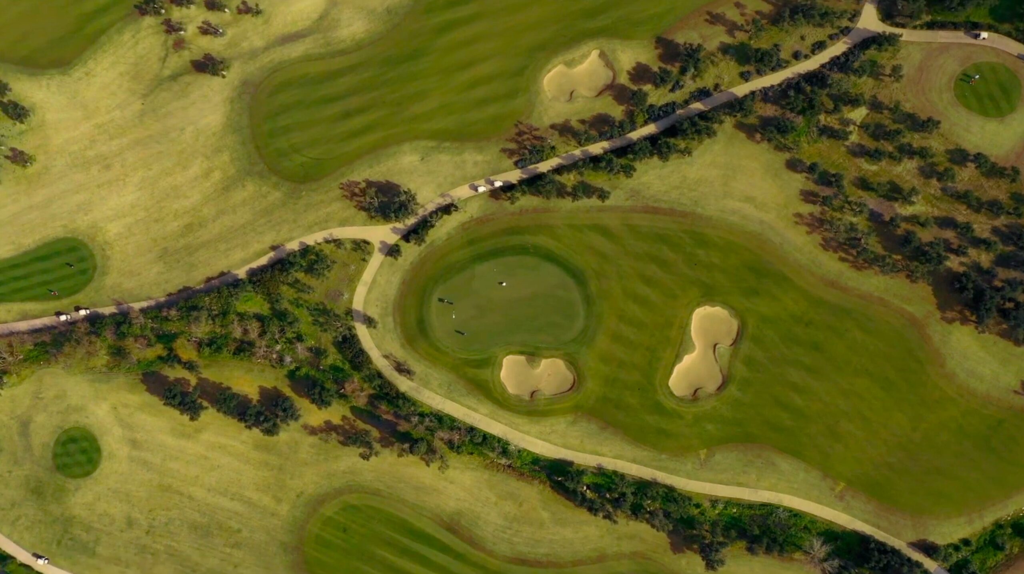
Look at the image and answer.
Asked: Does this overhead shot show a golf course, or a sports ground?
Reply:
golf course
